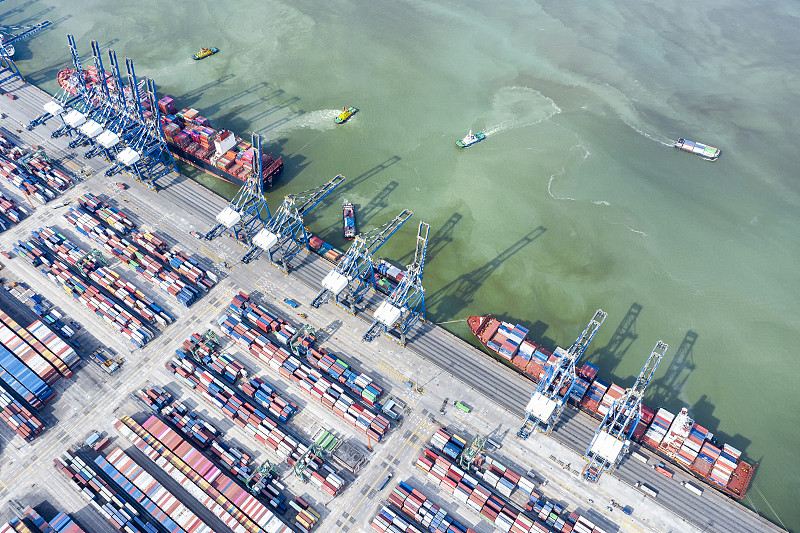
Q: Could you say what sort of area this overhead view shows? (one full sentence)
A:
It's a port.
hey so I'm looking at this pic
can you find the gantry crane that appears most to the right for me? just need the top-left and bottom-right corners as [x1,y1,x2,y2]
[579,337,671,486]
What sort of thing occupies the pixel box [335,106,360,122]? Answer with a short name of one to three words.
boat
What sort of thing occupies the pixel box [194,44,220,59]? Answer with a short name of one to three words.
boat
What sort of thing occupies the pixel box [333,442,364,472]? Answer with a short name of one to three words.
building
